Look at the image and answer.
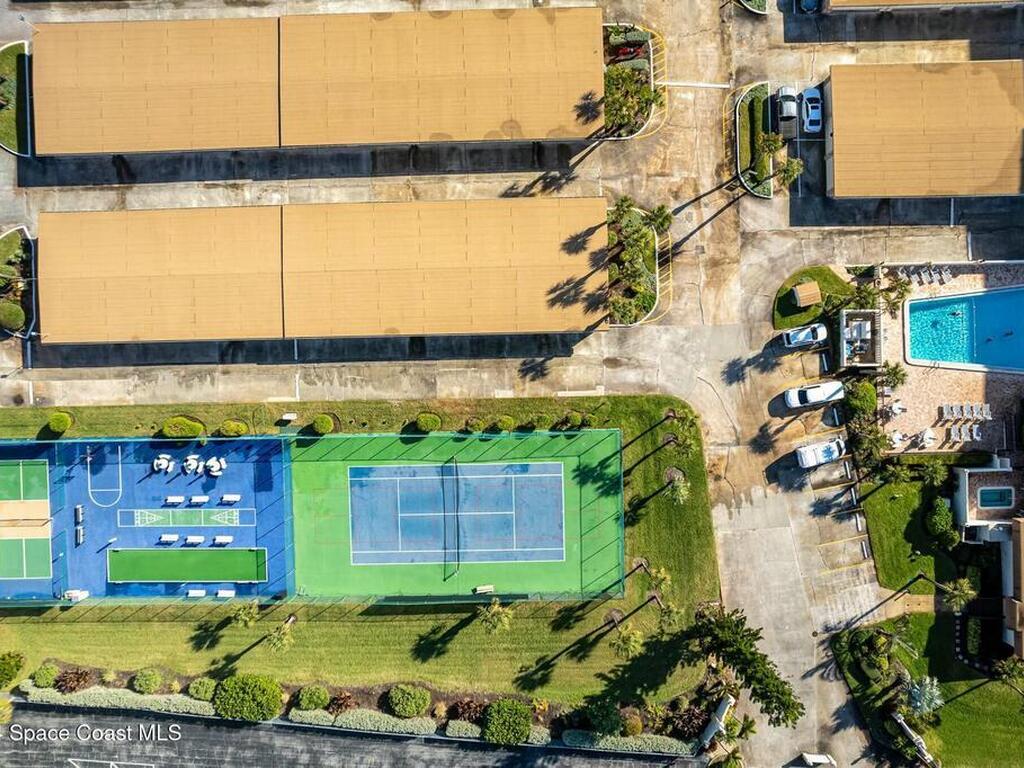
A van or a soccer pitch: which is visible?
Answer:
van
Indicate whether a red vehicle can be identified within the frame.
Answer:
No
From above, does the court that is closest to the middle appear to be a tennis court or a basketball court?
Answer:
tennis court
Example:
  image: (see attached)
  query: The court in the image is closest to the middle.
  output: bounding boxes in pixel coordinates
[292,429,622,598]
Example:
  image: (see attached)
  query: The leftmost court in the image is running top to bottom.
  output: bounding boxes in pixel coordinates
[0,459,52,580]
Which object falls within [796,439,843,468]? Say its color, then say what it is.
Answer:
white van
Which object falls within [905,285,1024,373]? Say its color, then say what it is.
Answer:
blue swimming pool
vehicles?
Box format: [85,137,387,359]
[796,439,843,468]
[801,90,823,134]
[782,381,845,408]
[775,89,799,140]
[783,324,827,348]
